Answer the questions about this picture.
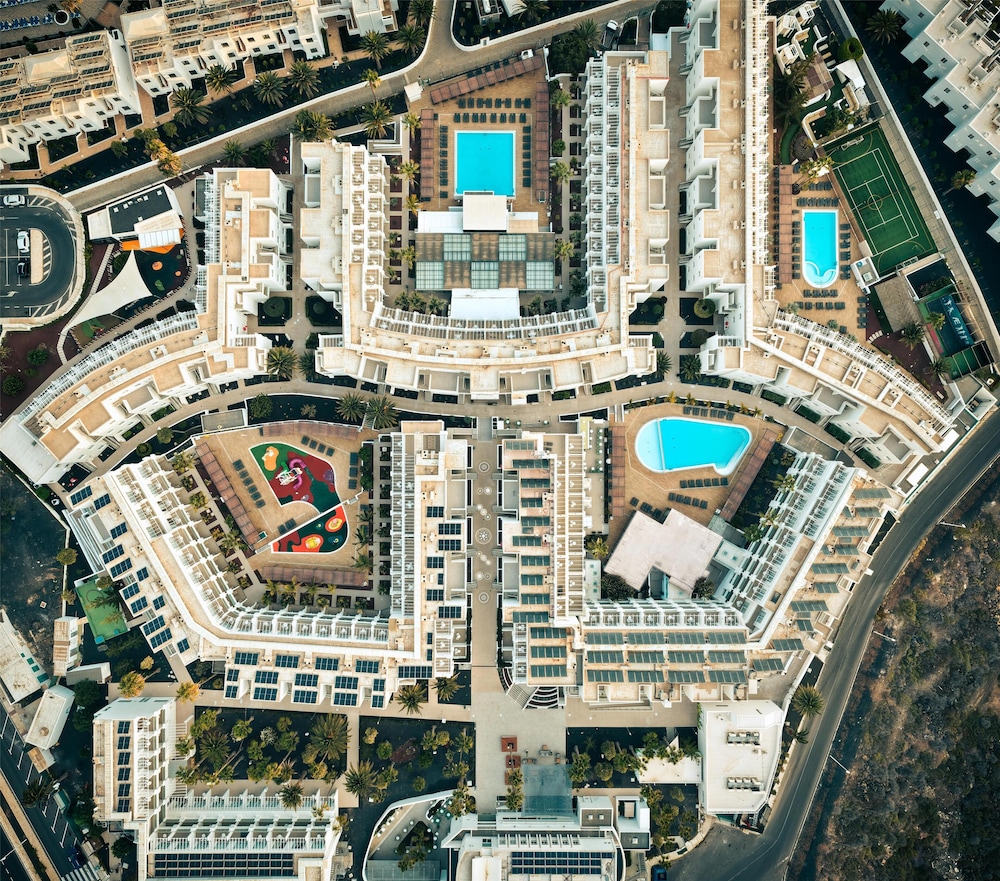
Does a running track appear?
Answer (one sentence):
No, no running track is visible in the scene.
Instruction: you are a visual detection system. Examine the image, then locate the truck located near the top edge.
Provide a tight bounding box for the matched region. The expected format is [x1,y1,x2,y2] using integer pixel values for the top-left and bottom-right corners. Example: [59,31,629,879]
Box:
[599,17,621,52]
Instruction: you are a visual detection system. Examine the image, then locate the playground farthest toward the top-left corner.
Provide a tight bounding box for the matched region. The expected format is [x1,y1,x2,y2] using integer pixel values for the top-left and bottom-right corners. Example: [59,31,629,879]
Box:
[69,234,187,347]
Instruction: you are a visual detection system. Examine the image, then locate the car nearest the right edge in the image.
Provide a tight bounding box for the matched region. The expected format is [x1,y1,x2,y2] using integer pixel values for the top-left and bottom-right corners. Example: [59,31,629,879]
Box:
[739,814,757,832]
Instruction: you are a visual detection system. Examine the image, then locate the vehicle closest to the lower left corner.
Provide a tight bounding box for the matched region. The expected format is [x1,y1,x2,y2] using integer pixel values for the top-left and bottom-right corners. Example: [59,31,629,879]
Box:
[65,847,85,872]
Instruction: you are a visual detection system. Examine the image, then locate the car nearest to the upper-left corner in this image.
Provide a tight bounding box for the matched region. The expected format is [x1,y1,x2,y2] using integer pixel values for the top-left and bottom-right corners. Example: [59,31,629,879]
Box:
[1,192,23,205]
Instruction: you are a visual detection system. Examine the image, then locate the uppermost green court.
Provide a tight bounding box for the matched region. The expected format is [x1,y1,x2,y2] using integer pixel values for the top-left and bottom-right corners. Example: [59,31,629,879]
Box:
[820,122,938,277]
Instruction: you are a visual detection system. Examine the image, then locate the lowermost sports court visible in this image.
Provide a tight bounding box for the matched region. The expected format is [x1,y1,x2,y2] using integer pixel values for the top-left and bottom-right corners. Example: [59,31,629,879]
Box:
[69,569,130,643]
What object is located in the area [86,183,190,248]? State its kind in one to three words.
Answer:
building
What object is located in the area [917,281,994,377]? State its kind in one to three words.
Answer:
sports court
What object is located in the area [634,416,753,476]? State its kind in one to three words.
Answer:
swimming pool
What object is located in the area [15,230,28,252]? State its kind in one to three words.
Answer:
vehicle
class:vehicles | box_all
[65,847,85,872]
[739,814,757,832]
[653,864,666,881]
[15,254,28,276]
[599,17,621,52]
[1,192,23,205]
[15,230,28,252]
